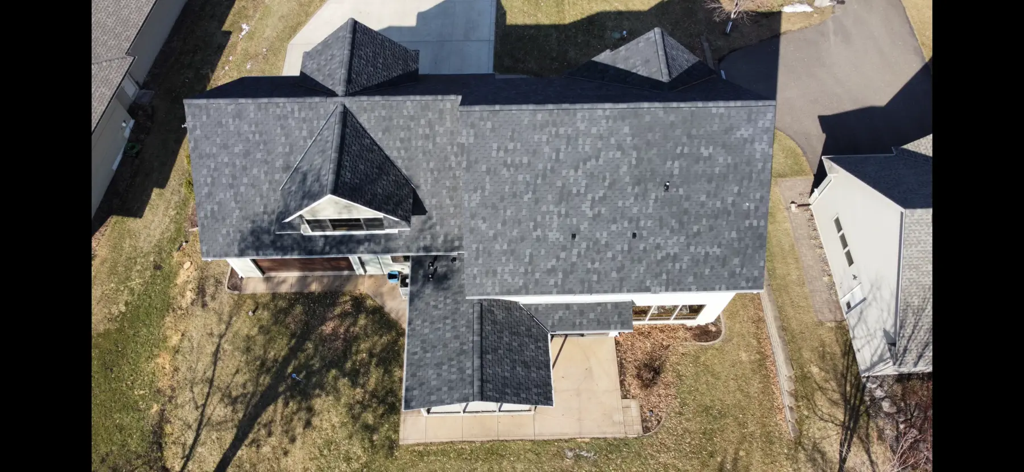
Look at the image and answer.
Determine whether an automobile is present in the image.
No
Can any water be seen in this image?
No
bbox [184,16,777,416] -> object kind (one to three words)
house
